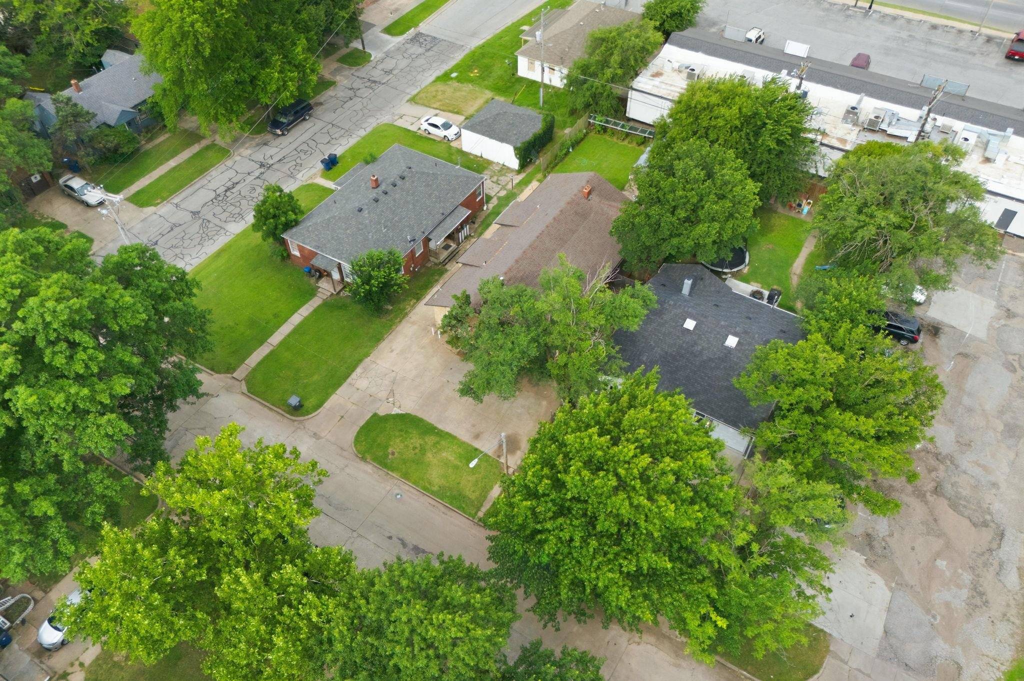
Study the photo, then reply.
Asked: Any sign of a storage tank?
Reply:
No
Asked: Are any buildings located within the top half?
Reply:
Yes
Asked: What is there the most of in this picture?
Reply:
trees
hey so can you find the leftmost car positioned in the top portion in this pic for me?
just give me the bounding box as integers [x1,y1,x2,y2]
[59,177,105,207]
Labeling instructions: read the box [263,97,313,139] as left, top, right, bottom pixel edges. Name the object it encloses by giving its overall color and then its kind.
black car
